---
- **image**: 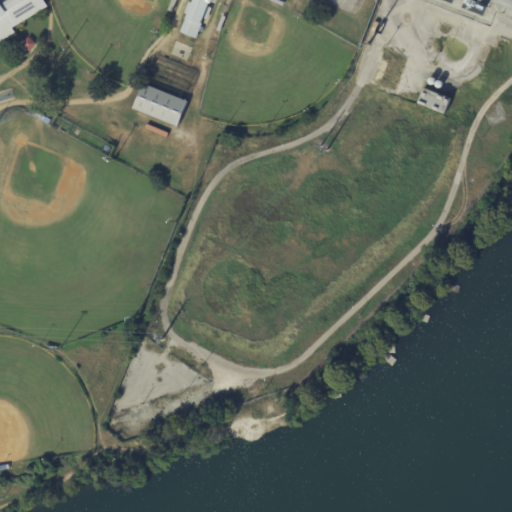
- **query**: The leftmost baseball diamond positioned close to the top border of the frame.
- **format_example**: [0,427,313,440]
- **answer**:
[50,0,168,85]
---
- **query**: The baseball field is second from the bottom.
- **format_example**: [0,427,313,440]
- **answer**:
[0,106,190,345]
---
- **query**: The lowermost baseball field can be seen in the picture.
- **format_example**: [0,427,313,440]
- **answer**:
[0,336,96,464]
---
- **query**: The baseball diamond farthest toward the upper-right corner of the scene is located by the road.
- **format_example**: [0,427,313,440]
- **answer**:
[202,0,358,126]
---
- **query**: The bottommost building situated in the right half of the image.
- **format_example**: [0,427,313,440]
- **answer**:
[417,88,453,113]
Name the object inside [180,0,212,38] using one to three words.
building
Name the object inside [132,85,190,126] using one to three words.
shed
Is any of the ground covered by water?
Yes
